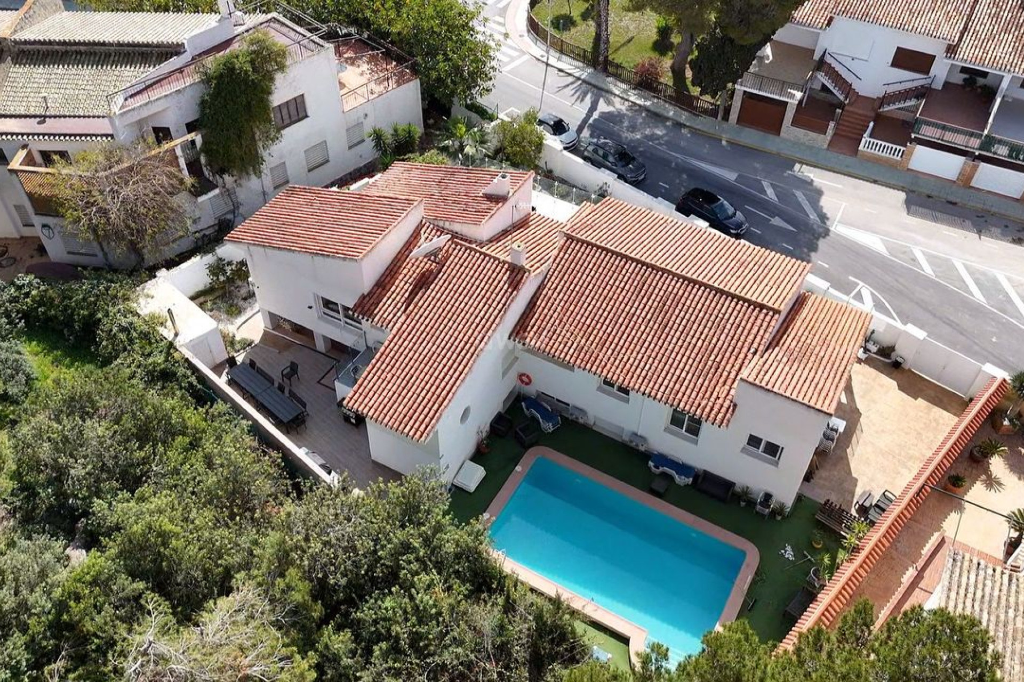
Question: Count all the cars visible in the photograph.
3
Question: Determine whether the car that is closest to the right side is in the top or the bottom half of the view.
top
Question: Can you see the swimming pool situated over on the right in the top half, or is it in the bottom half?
bottom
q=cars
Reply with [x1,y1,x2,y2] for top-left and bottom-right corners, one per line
[581,138,647,185]
[675,185,749,236]
[528,113,586,154]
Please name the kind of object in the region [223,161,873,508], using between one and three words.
house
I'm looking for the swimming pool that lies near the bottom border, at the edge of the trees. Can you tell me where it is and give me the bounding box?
[474,447,759,682]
